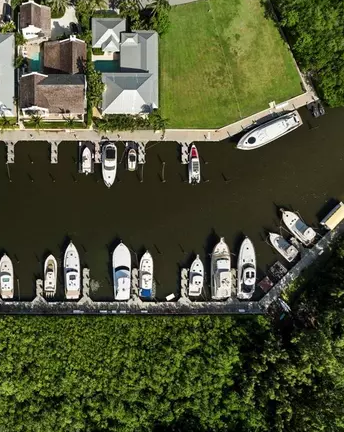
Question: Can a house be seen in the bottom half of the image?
No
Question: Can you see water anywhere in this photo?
Yes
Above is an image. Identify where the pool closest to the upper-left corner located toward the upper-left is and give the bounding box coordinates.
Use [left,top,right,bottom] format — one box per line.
[30,52,44,70]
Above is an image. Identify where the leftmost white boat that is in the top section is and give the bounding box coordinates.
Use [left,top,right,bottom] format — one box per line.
[77,147,96,179]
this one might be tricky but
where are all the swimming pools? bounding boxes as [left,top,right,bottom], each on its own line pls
[92,60,120,73]
[30,52,44,70]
